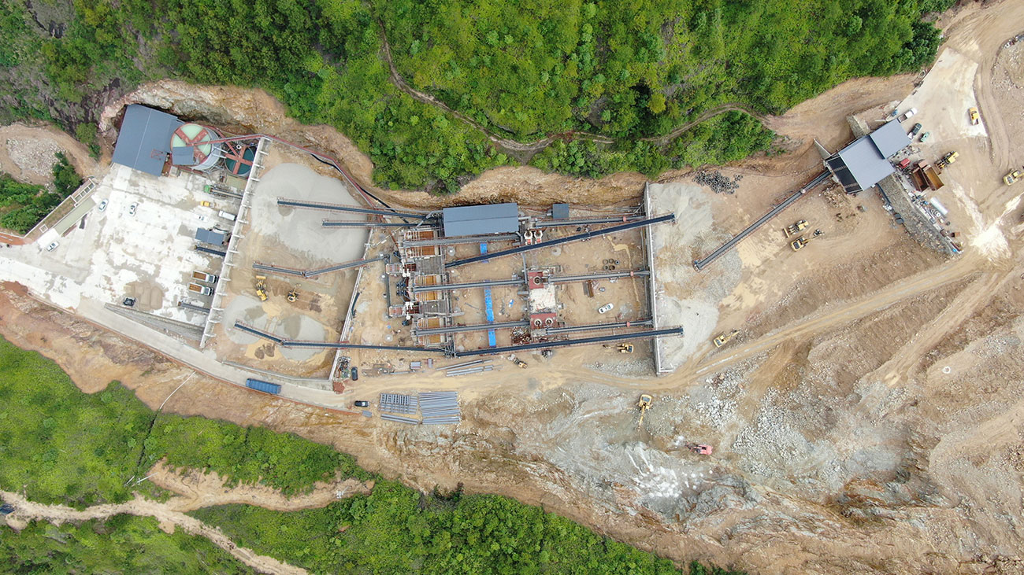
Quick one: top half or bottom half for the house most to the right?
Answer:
top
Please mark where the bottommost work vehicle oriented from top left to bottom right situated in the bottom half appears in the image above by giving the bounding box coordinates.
[507,354,526,369]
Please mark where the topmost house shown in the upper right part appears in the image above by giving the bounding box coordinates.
[822,118,911,194]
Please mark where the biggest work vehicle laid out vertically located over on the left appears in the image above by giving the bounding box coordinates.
[252,272,267,301]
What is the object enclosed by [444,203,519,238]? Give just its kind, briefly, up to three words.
house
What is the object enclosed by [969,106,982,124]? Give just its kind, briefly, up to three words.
vehicle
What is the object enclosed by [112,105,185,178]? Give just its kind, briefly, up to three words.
building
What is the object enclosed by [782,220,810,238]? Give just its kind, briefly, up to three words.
work vehicle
